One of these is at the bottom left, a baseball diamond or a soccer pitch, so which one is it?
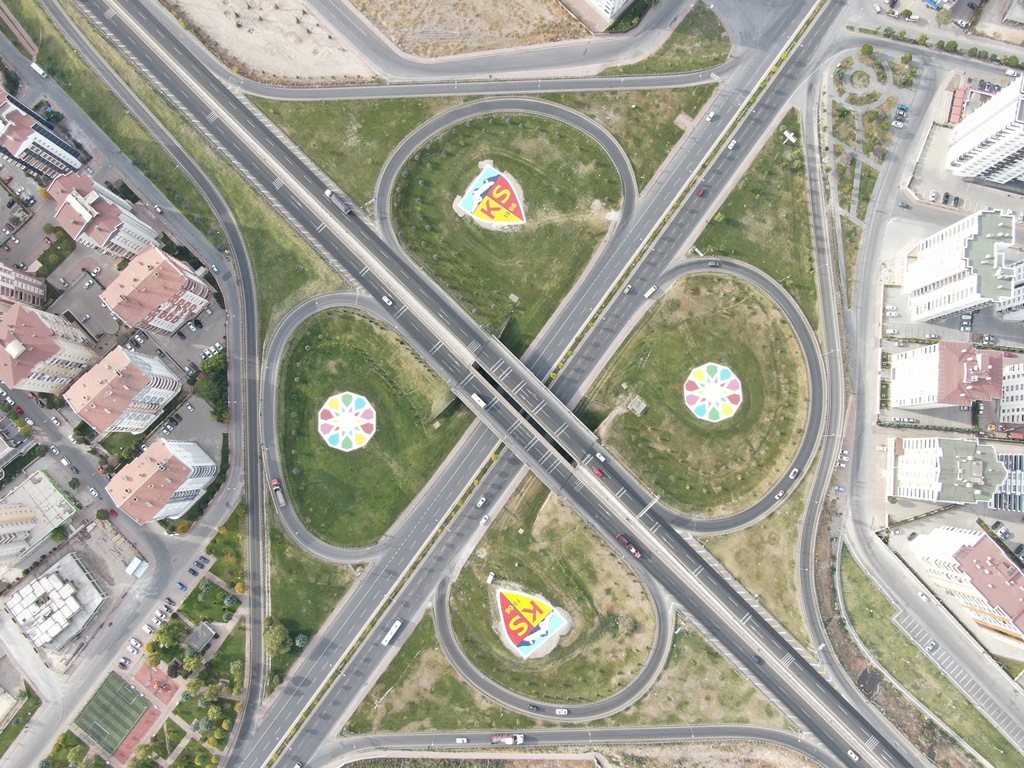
soccer pitch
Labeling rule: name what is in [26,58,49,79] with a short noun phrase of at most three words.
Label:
truck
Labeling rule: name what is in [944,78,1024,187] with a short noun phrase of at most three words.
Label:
building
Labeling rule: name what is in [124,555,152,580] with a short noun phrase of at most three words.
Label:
shed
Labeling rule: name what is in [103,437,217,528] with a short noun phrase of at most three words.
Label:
building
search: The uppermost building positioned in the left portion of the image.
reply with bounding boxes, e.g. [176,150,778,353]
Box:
[0,85,79,179]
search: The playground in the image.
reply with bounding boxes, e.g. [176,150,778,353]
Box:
[135,665,181,706]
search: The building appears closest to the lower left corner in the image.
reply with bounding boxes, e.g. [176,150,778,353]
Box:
[0,673,28,723]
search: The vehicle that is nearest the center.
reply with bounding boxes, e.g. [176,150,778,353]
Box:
[469,391,488,410]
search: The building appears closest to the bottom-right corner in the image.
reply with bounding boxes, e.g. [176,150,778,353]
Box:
[907,526,1024,645]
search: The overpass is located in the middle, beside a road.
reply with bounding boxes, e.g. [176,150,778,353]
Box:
[428,319,621,511]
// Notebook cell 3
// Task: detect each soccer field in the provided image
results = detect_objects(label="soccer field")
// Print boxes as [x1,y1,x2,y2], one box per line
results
[68,671,150,761]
